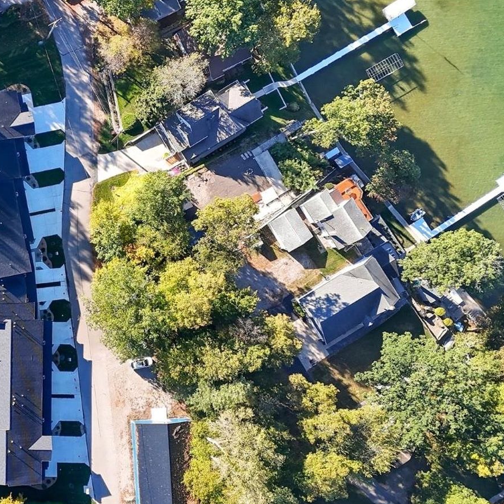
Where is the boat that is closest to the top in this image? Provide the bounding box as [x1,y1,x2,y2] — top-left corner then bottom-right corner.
[409,209,429,222]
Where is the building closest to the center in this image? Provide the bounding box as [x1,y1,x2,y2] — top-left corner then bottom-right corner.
[265,207,313,253]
